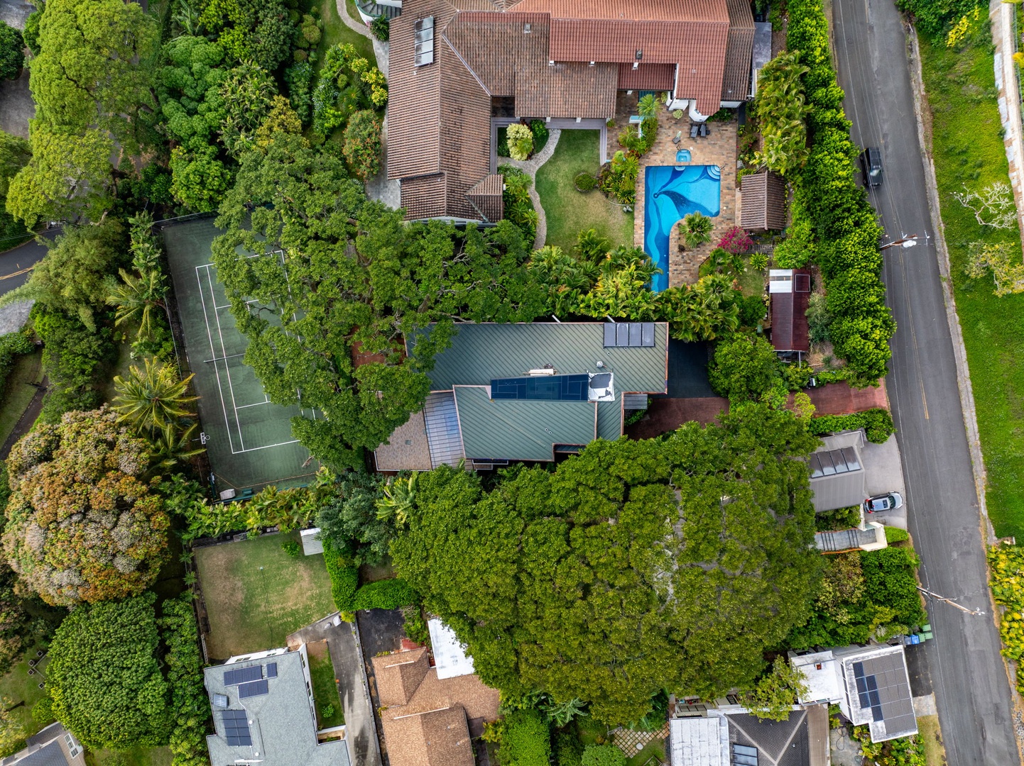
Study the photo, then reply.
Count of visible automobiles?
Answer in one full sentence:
Altogether the scene contains 2 automobiles.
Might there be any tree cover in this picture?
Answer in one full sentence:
Yes, there's tree cover in this view.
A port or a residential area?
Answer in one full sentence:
It's a residential area.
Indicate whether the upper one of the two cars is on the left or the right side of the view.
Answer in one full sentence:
You can find the upper one of the two cars on the right side of the picture.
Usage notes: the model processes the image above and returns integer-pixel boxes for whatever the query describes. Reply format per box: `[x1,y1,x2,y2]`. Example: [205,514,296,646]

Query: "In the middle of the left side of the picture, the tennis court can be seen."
[163,198,354,495]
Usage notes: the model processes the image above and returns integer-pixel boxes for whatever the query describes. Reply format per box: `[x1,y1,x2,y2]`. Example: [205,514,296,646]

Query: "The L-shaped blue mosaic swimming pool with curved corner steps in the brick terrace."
[641,163,722,300]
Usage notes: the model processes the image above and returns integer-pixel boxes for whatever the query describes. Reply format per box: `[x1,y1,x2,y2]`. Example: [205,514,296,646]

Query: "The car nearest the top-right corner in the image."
[863,146,886,184]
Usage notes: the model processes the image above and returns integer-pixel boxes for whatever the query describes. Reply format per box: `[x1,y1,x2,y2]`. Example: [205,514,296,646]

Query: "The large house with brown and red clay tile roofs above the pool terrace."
[386,0,776,224]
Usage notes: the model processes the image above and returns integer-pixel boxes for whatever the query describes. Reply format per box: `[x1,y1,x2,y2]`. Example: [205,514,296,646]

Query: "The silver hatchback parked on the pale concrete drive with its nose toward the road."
[865,494,905,514]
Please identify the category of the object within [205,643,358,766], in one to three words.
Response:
house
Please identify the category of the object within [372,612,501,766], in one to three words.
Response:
house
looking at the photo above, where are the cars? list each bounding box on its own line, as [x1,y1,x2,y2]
[865,494,905,514]
[863,146,886,184]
